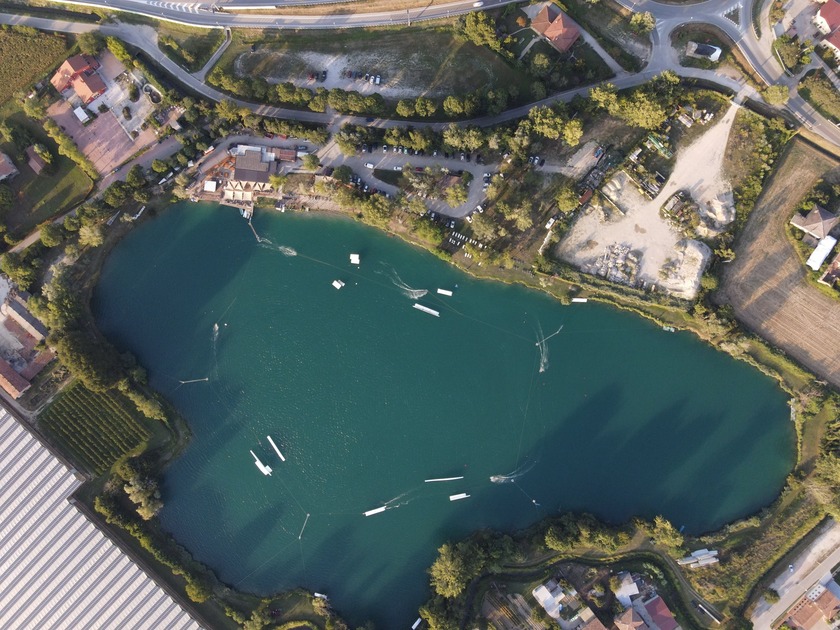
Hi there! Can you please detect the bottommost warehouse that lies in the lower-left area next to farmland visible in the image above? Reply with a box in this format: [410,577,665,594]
[0,386,220,630]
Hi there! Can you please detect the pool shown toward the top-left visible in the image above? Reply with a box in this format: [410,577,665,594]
[143,84,162,103]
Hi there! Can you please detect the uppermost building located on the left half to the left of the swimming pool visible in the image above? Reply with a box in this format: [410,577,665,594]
[48,48,107,103]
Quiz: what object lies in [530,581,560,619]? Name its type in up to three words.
house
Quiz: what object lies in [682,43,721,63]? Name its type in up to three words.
building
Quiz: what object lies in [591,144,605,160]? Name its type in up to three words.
vehicle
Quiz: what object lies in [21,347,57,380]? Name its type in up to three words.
building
